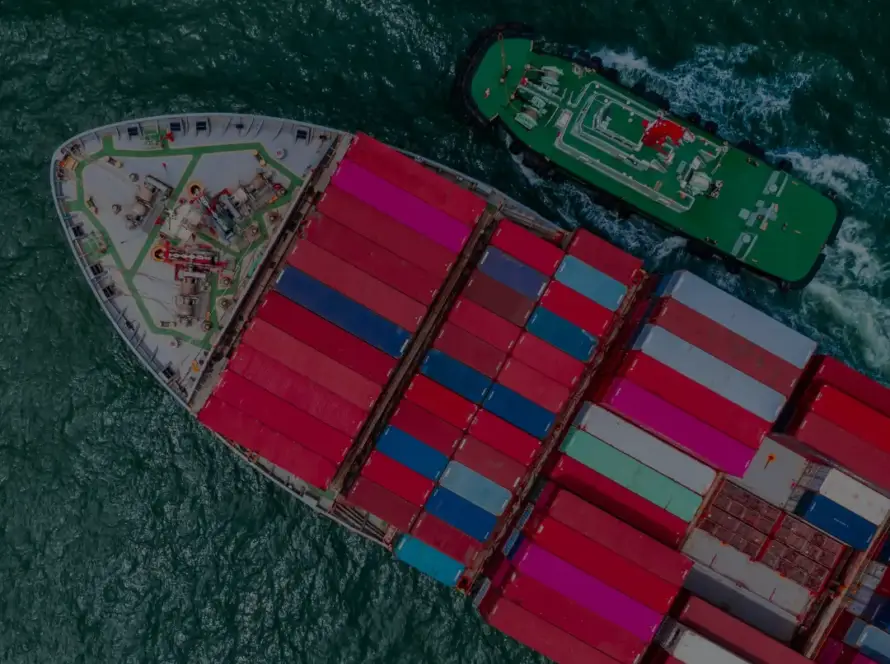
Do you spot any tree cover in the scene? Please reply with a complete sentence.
No, the picture contains no tree cover.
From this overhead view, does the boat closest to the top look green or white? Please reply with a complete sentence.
The color of the boat closest to the top is green.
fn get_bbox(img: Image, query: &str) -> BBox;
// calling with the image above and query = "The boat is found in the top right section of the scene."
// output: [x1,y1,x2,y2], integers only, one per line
[461,28,840,288]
